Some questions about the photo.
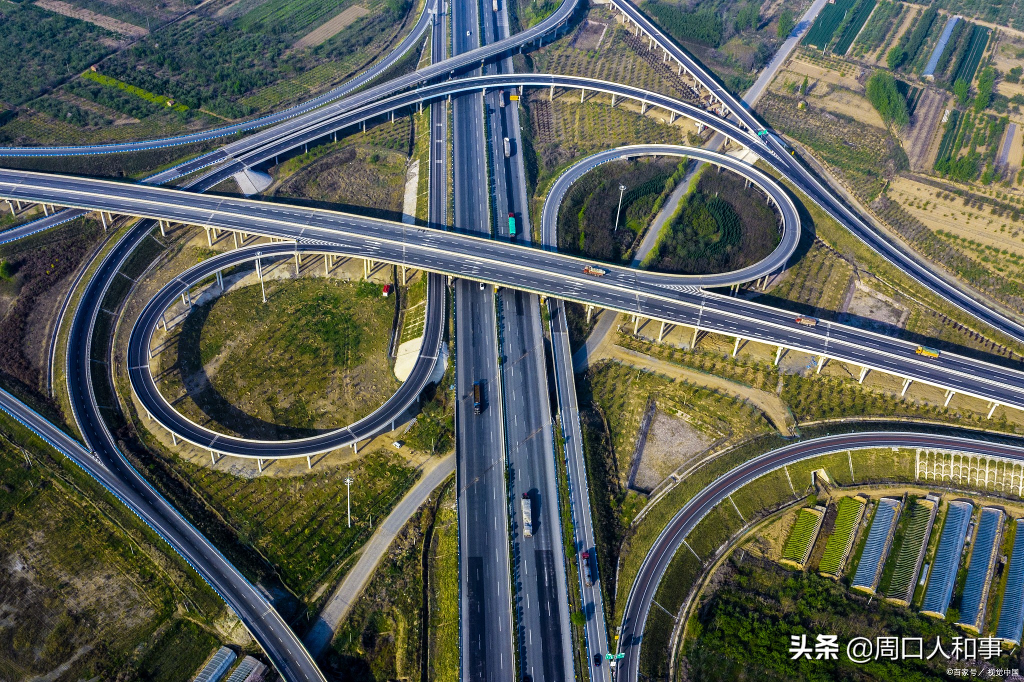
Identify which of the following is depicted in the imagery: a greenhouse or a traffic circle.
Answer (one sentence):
Looking from above, you can make out a greenhouse.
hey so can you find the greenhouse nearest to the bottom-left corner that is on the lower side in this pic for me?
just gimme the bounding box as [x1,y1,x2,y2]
[195,648,237,682]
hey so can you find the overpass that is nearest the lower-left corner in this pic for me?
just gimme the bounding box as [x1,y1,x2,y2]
[240,601,328,682]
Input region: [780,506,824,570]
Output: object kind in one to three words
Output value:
greenhouse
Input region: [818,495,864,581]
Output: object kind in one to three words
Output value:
greenhouse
